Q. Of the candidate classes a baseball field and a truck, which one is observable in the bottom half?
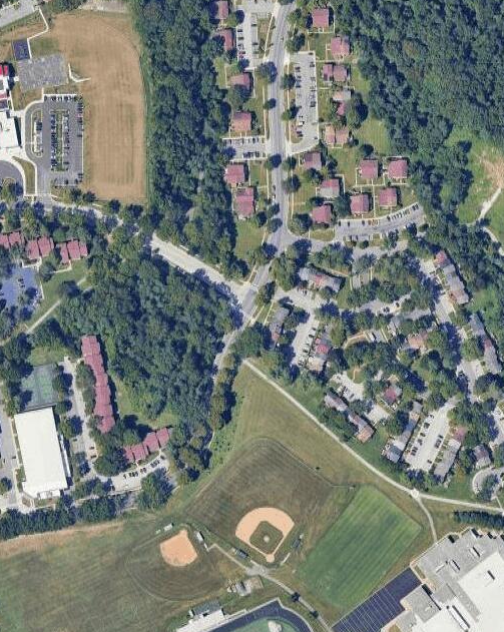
baseball field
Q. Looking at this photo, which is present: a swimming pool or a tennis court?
tennis court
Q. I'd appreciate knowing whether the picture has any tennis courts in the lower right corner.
No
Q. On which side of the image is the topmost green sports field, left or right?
right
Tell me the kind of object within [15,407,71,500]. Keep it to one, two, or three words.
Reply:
building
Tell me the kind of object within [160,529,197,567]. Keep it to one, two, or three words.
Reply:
baseball field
